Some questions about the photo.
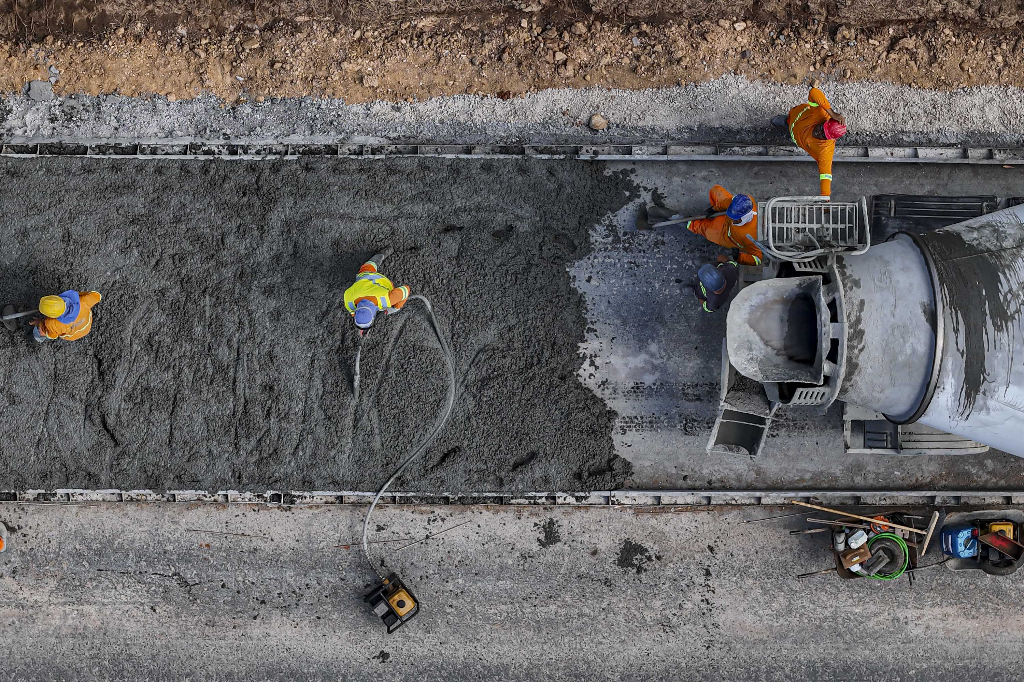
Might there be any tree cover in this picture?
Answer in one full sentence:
No, tree cover can't be seen anywhere here.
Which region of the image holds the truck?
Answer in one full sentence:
The truck is located in the right region of the scene.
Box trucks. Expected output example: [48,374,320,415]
[710,193,1024,457]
